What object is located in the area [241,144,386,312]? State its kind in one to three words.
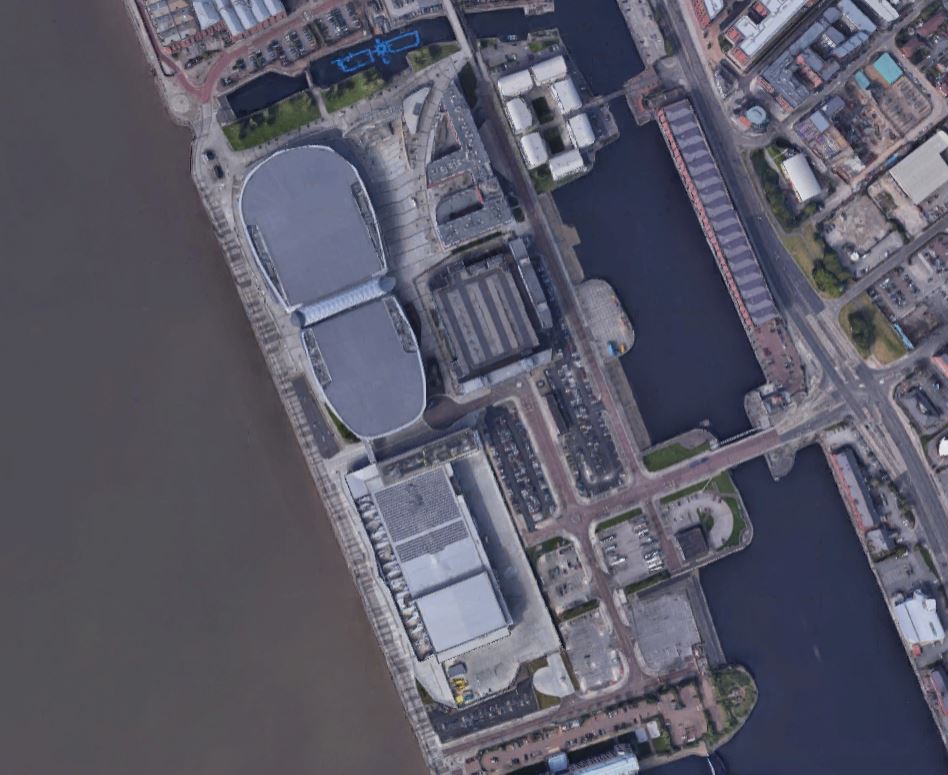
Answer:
stadium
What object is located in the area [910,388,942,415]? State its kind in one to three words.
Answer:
shed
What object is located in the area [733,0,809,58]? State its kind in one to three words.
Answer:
building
